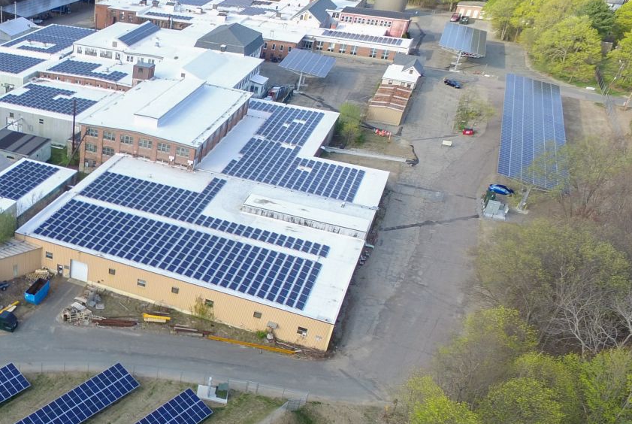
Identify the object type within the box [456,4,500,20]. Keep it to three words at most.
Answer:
building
